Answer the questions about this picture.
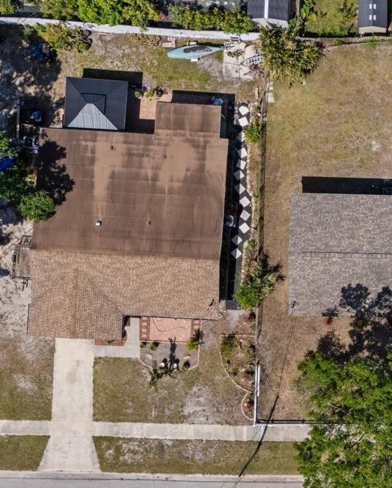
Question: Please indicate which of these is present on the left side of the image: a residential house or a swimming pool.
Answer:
residential house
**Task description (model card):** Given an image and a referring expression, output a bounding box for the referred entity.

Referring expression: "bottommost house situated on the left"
[26,102,231,341]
